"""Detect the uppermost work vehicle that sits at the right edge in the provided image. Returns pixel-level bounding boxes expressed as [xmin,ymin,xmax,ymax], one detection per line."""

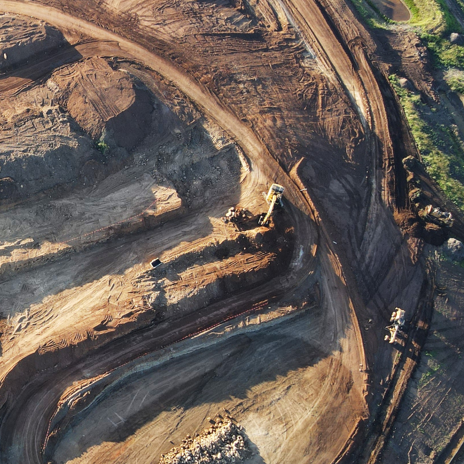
[427,203,457,225]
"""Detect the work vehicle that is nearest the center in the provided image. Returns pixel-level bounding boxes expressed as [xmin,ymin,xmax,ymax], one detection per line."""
[262,178,288,223]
